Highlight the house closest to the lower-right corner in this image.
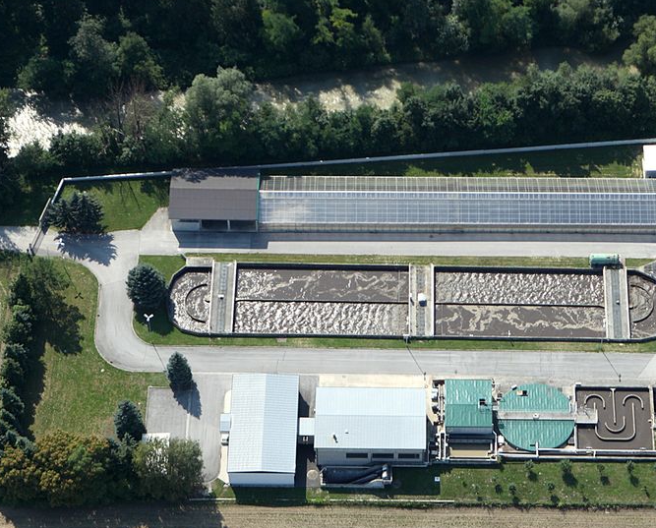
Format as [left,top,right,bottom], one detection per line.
[444,380,493,435]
